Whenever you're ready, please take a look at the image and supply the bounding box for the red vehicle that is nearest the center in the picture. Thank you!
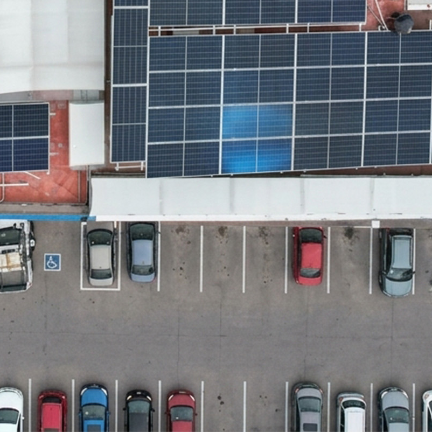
[289,222,327,284]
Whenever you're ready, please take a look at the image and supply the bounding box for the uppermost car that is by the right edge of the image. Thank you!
[377,222,417,295]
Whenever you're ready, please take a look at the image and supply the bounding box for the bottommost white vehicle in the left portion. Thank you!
[0,385,25,432]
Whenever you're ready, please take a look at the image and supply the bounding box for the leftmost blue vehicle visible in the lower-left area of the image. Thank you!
[76,383,111,432]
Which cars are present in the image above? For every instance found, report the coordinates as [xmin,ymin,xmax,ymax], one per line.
[0,385,25,432]
[377,222,417,295]
[125,222,158,282]
[121,388,156,432]
[84,222,118,284]
[289,222,327,284]
[374,385,413,432]
[76,383,111,432]
[288,382,322,432]
[164,388,199,432]
[331,392,369,432]
[36,389,68,432]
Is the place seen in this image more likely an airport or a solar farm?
solar farm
